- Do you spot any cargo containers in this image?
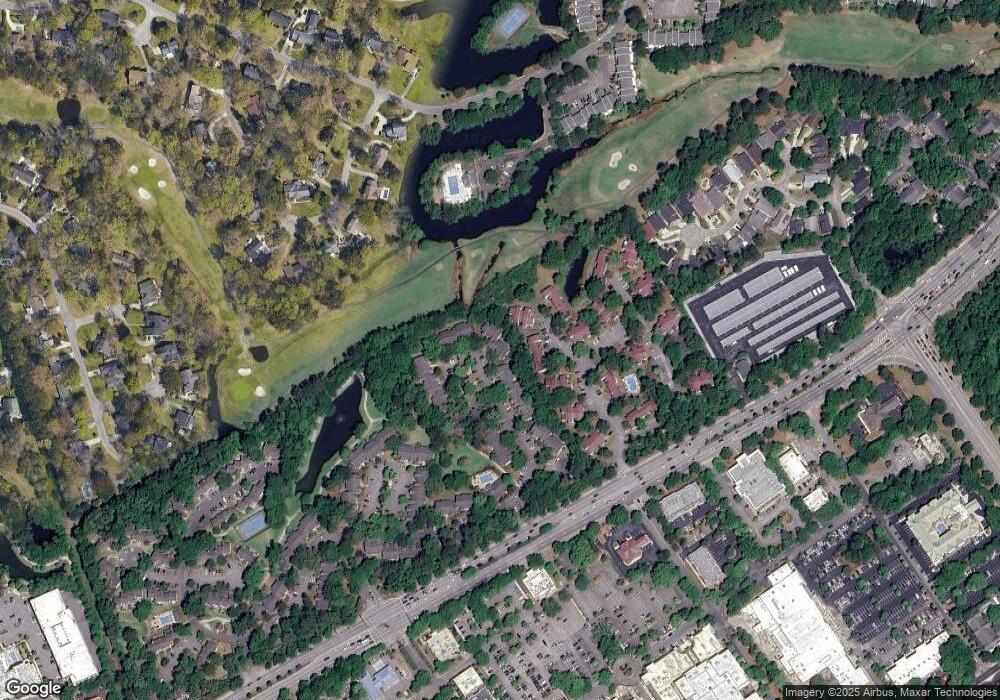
No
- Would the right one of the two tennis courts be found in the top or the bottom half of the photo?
top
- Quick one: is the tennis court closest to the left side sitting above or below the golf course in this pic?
below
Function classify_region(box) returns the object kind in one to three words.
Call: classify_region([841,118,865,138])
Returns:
house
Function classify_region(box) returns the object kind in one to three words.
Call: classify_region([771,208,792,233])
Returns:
house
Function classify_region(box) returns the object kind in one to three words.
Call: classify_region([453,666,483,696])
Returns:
building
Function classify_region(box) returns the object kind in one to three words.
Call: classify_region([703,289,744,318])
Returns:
shed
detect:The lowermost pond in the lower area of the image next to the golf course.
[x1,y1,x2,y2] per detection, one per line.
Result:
[295,374,363,496]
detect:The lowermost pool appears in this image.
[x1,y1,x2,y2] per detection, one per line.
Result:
[149,611,176,629]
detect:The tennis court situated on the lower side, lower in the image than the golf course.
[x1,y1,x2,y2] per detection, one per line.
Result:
[234,512,270,541]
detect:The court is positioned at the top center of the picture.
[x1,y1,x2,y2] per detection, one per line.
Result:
[496,5,530,40]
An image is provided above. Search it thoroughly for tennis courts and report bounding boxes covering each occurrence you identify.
[496,5,530,40]
[234,512,270,541]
